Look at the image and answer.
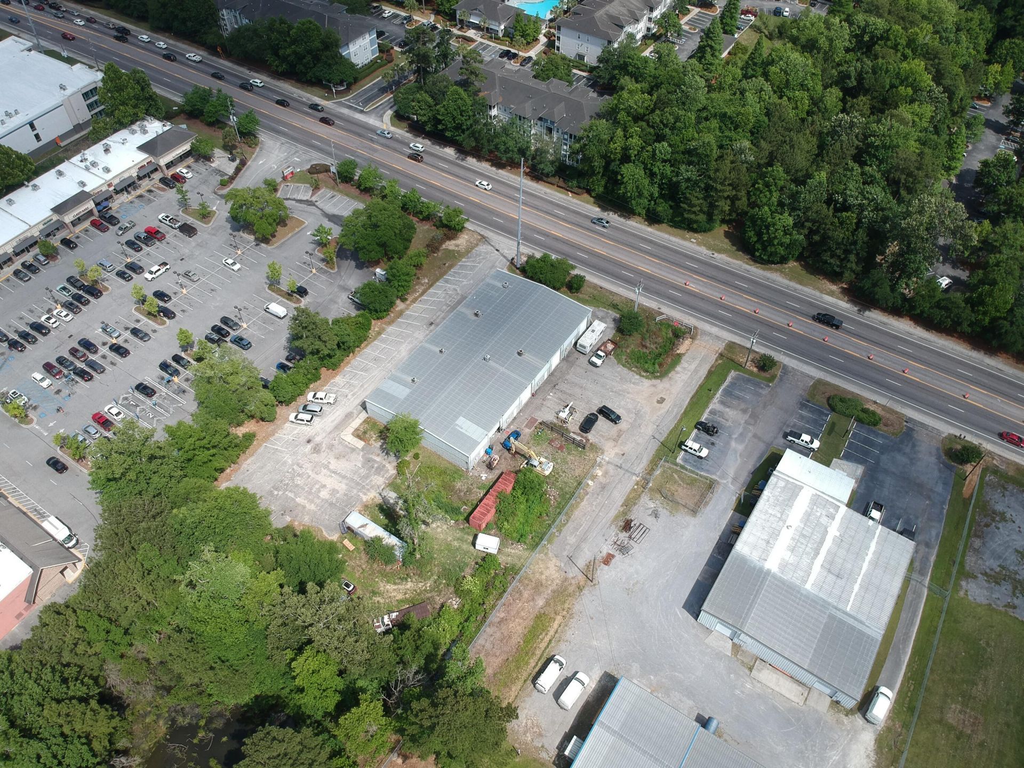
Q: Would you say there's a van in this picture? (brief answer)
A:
Yes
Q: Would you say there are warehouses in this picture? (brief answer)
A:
Yes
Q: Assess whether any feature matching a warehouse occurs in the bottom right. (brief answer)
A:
Yes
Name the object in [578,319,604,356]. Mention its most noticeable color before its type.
white camper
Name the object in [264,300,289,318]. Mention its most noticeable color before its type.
white vehicle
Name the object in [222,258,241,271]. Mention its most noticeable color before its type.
white vehicle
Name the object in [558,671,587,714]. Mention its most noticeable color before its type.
white van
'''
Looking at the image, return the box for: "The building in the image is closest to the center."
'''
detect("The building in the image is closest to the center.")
[365,268,592,469]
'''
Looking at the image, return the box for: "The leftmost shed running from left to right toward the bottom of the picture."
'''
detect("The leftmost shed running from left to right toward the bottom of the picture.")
[563,674,768,768]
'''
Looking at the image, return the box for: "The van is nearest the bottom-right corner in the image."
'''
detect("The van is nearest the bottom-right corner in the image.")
[864,685,894,727]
